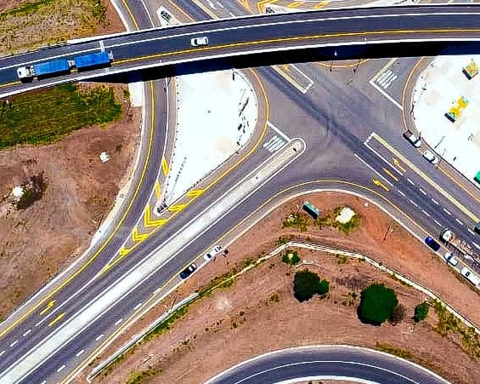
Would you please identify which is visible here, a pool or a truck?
truck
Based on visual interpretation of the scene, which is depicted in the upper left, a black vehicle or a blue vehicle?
blue vehicle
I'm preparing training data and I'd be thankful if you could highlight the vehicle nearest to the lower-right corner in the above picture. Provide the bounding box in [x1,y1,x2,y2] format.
[460,266,480,285]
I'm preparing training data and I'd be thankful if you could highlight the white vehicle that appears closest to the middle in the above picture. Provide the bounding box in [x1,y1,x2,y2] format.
[202,244,223,260]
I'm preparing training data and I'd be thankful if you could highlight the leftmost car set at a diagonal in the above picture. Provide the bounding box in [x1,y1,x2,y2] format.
[179,262,198,278]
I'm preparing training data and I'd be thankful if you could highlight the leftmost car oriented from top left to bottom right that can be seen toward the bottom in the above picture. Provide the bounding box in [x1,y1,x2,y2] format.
[423,235,440,251]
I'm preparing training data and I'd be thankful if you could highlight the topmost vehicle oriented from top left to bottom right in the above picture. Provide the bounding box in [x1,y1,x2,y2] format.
[400,129,421,147]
